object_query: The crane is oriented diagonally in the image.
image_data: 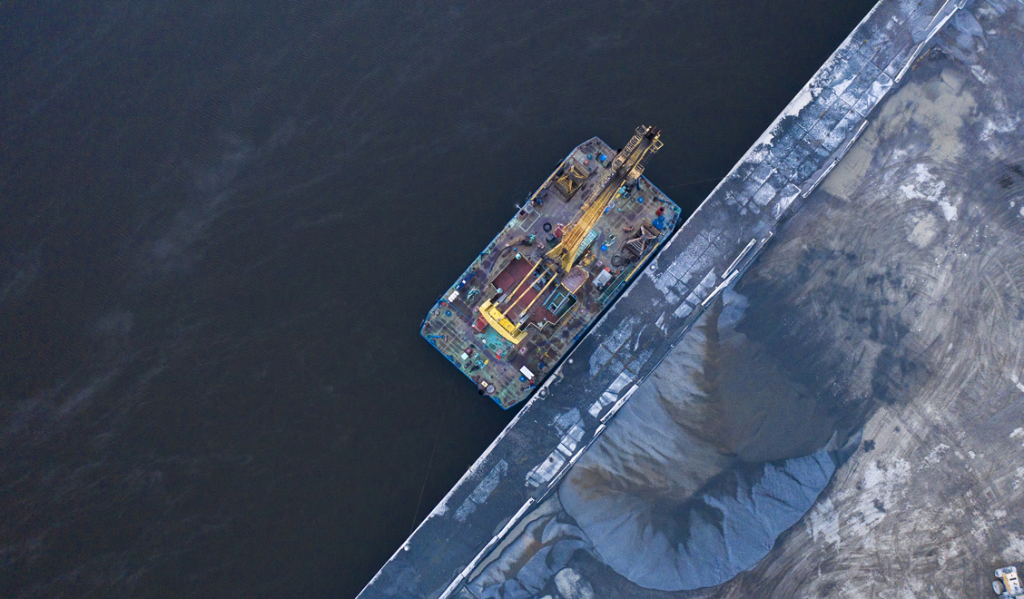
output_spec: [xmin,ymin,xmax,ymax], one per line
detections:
[479,125,664,344]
